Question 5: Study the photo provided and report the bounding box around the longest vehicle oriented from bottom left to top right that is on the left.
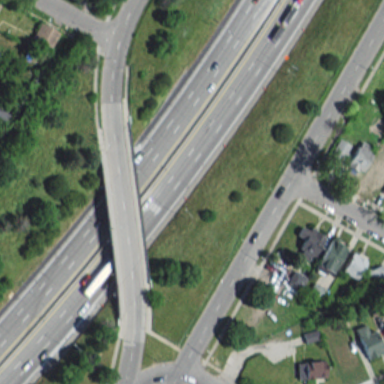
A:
[83,258,116,297]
